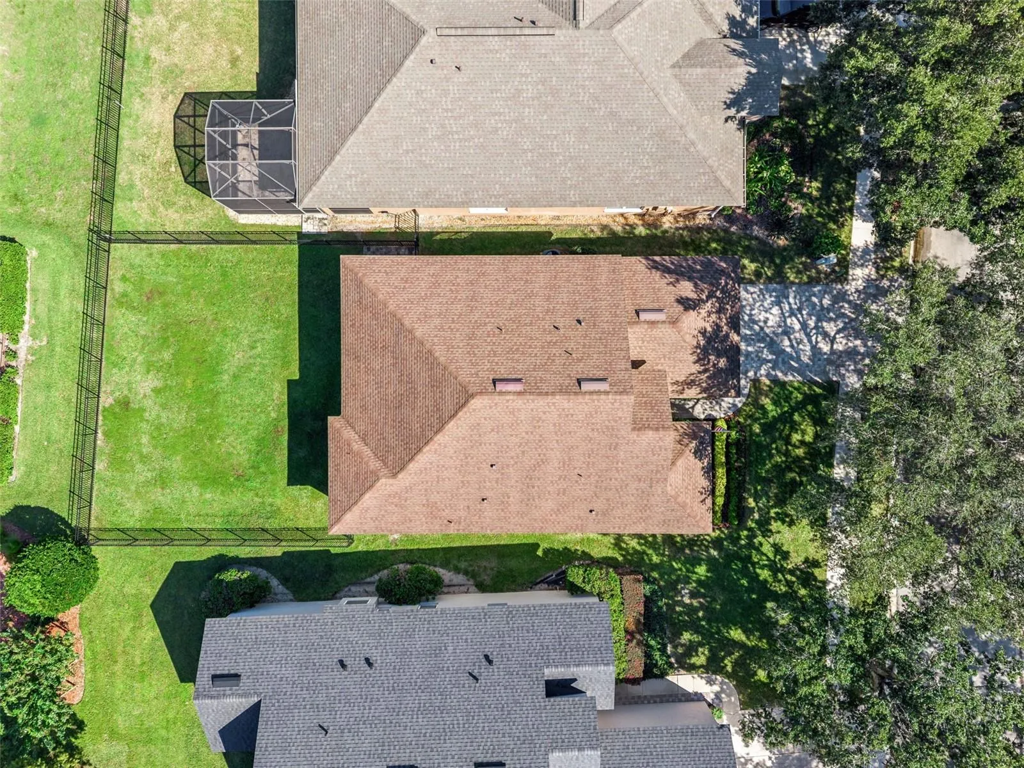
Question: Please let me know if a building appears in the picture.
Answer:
Yes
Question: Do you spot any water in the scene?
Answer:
No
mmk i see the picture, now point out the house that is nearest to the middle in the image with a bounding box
[328,256,740,534]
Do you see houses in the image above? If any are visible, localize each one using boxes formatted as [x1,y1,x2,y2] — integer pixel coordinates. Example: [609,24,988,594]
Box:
[294,0,791,223]
[195,587,737,768]
[328,256,740,534]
